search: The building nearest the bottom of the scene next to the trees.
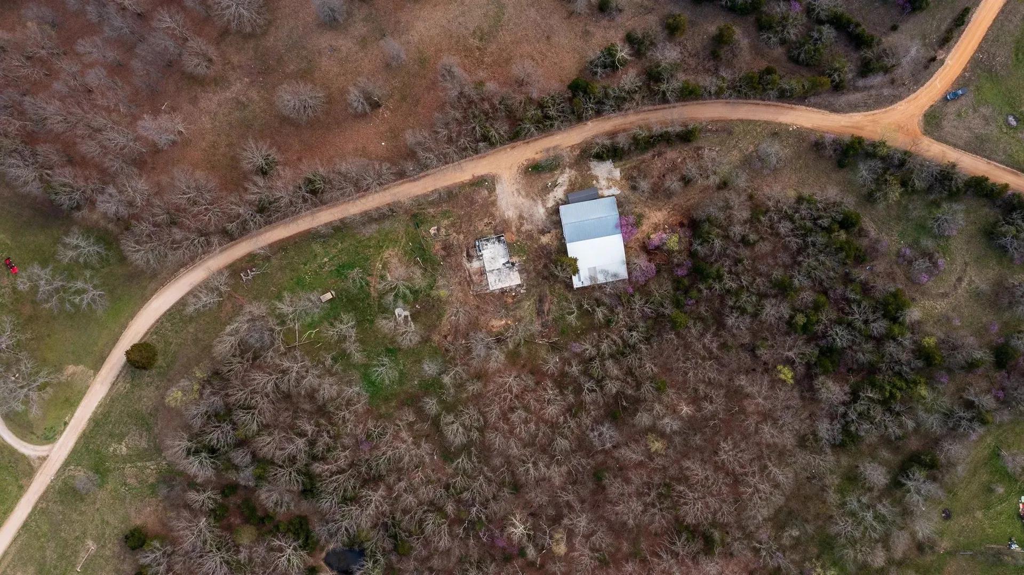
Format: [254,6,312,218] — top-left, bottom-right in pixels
[559,196,628,289]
